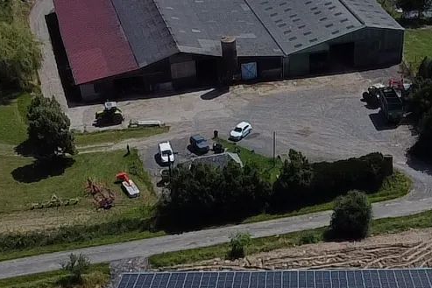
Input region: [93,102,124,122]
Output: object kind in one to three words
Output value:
work vehicle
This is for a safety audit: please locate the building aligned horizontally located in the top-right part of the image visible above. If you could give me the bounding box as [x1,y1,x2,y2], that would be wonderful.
[235,0,407,73]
